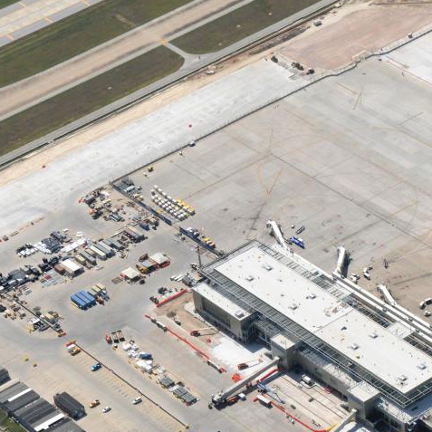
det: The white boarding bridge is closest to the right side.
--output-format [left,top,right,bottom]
[377,282,397,307]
